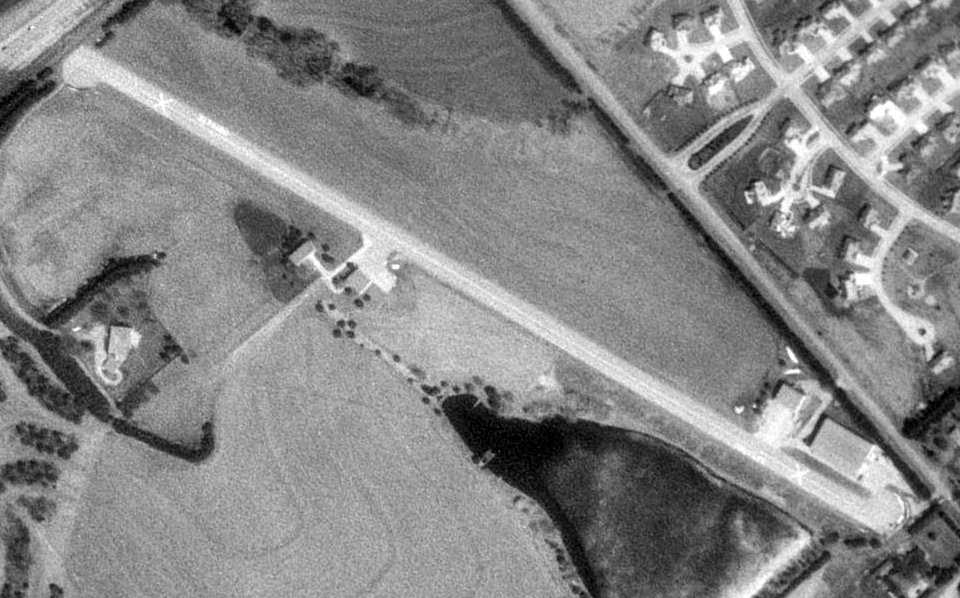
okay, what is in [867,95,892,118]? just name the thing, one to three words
house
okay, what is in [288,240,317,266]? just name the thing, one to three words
house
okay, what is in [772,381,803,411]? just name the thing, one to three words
hangar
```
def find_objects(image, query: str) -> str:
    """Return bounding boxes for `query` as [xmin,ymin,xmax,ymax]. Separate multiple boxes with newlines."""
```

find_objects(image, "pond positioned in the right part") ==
[445,395,809,598]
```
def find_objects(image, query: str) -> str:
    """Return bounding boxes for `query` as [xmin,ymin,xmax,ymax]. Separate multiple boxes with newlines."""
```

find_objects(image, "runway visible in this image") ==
[66,48,903,529]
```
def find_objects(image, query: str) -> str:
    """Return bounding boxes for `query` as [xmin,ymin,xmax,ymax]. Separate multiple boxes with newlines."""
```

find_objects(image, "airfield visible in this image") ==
[66,48,922,529]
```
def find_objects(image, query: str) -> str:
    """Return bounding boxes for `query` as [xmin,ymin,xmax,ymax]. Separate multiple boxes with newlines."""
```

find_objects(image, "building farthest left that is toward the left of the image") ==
[106,324,131,371]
